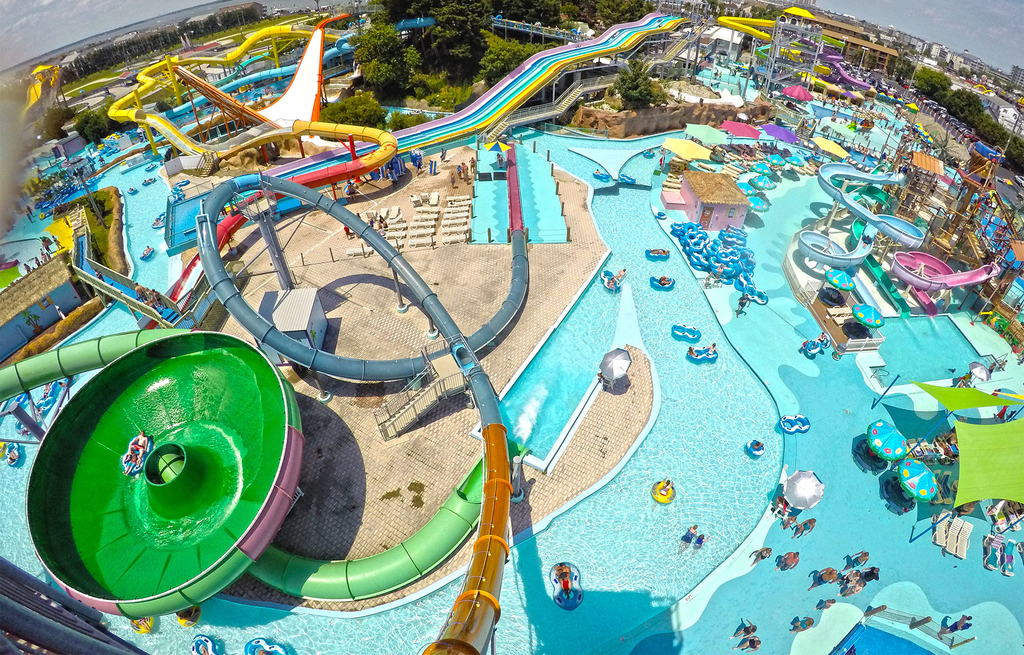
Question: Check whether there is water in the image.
Yes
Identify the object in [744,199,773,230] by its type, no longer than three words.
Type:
umbrella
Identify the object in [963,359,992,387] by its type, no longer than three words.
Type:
umbrella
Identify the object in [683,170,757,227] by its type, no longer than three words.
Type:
shed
